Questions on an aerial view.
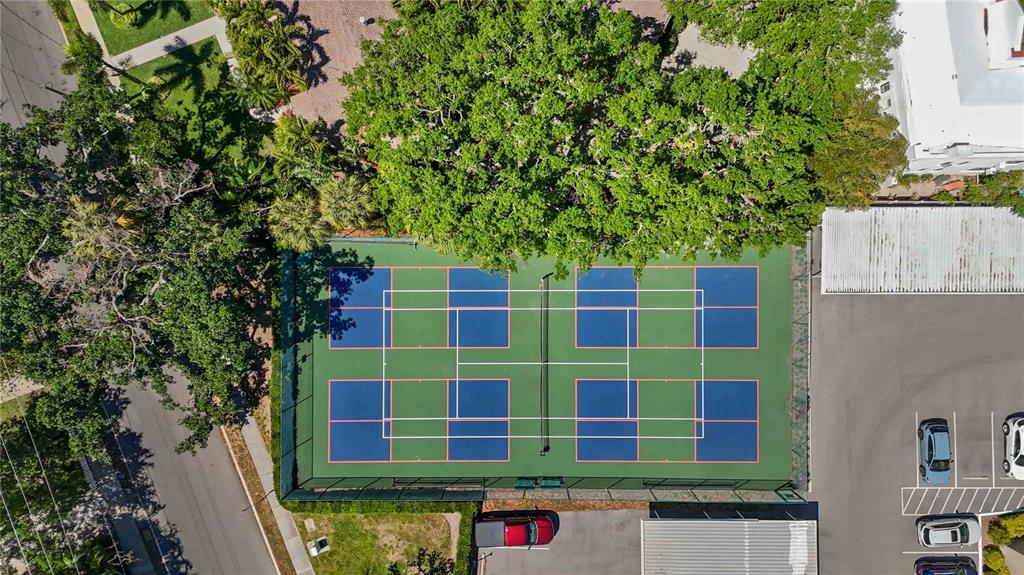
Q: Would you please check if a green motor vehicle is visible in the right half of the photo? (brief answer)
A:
No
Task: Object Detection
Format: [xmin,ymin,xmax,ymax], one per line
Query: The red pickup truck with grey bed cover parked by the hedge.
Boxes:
[476,515,552,551]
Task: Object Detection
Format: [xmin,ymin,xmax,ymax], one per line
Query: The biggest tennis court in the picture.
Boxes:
[297,243,789,488]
